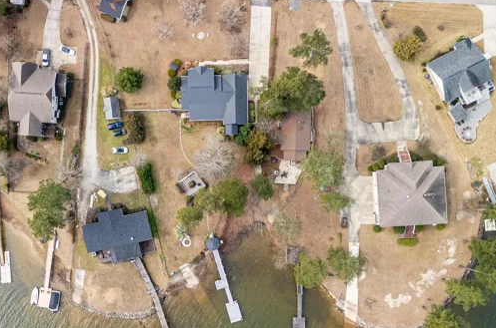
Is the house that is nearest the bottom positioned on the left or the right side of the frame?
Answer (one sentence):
The house that is nearest the bottom appears in the left half of the scene.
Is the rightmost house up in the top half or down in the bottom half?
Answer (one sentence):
The top half of the photo is where the rightmost house is.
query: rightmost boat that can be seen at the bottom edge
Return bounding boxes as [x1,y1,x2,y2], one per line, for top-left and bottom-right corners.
[48,291,61,312]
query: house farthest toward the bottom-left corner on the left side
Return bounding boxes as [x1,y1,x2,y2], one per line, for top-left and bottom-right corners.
[82,208,156,263]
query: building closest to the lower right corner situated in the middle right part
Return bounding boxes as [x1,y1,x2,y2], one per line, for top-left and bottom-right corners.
[373,150,448,239]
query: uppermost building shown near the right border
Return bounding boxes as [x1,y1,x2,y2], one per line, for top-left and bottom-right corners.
[424,38,496,122]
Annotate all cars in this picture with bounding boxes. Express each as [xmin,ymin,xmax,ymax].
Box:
[58,45,75,54]
[106,122,123,130]
[112,129,126,137]
[41,48,48,65]
[111,147,128,153]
